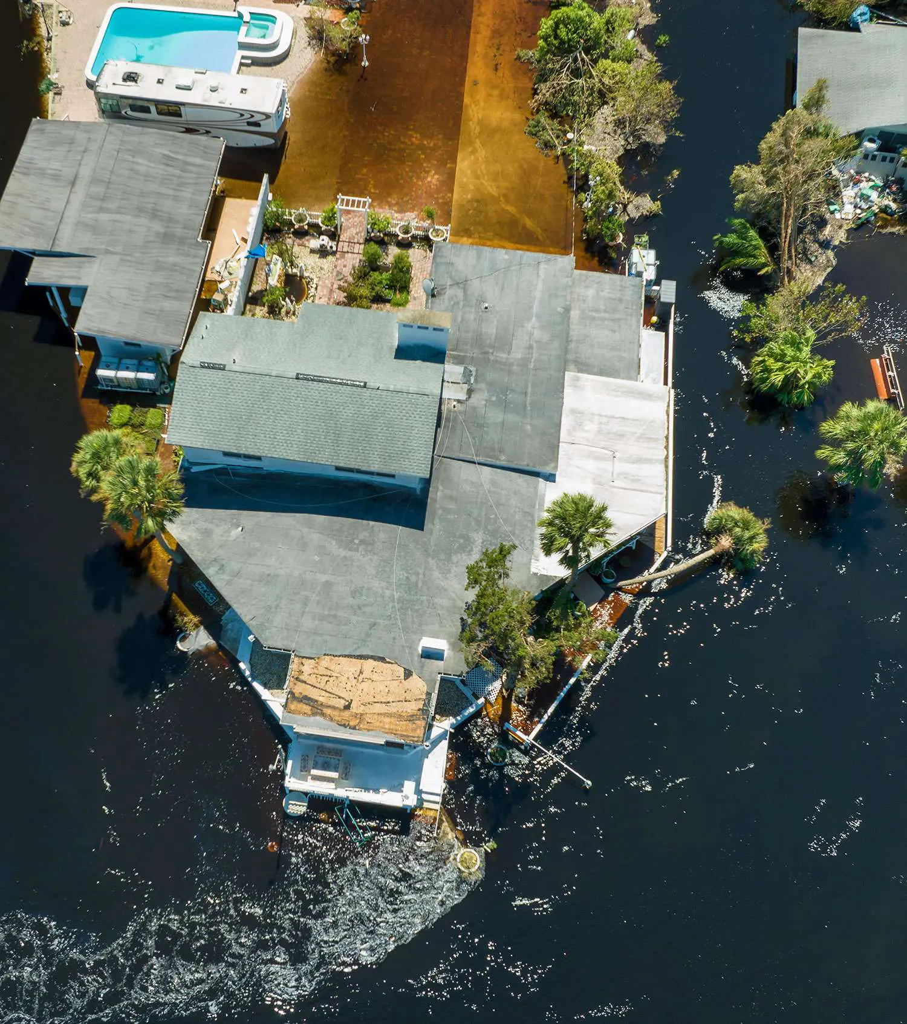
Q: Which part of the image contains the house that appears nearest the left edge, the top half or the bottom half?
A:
top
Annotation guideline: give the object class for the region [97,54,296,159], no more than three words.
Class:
camper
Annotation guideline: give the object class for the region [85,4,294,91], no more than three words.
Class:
swimming pool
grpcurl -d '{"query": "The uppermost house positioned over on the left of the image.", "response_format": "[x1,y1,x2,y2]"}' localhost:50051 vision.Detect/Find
[0,118,229,371]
